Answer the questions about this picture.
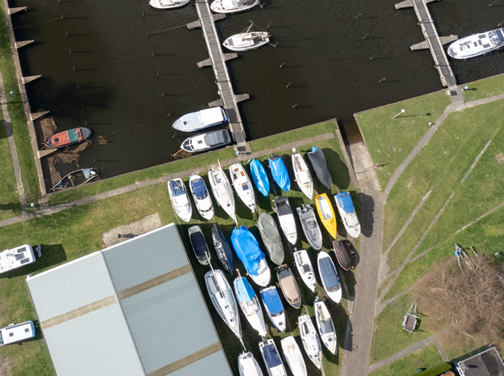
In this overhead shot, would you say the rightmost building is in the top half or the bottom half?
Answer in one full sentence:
You can find the rightmost building in the bottom half.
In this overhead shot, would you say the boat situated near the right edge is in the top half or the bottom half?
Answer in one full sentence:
The boat situated near the right edge is in the top half of the image.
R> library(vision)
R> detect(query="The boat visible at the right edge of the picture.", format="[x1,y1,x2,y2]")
[446,27,504,56]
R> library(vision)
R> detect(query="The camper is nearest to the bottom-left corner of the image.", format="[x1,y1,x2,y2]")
[0,319,38,347]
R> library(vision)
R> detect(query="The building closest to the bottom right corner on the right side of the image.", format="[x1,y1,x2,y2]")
[448,345,504,376]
